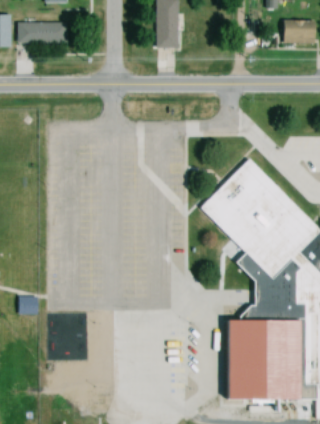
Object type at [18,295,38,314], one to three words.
shed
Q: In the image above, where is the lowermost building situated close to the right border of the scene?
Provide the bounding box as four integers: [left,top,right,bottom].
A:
[202,158,320,420]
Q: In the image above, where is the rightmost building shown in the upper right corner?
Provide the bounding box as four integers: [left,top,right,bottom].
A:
[284,18,318,48]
